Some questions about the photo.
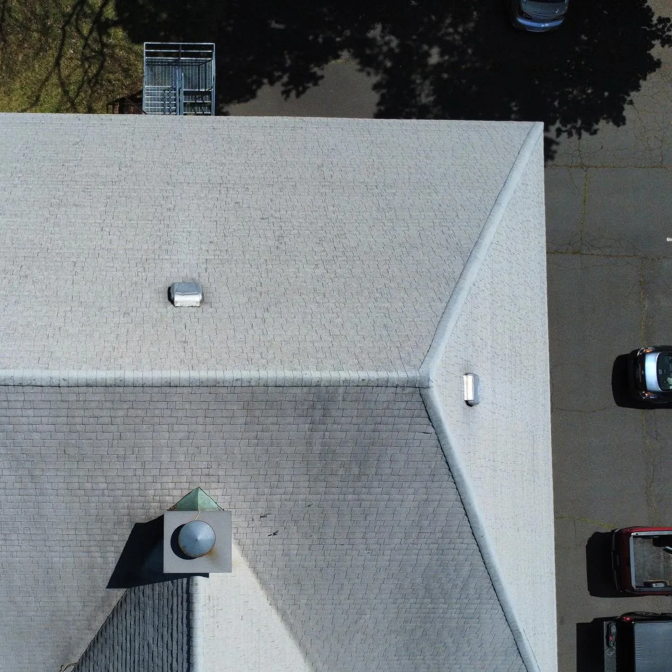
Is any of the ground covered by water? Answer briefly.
No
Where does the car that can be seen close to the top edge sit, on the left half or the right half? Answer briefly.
right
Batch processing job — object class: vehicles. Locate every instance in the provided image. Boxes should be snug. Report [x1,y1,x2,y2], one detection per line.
[507,0,570,36]
[603,613,672,672]
[627,347,672,403]
[610,531,672,592]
